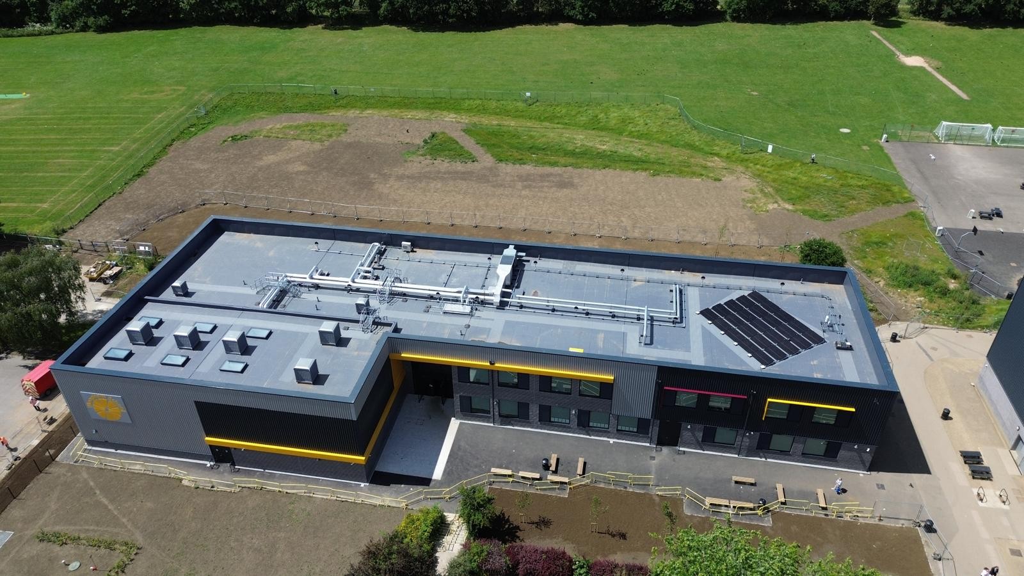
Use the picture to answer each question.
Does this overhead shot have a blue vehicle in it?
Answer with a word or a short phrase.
No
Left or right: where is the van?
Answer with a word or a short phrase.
left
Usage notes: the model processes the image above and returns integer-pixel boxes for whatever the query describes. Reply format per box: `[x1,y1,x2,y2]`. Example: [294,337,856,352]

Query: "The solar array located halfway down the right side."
[694,292,826,371]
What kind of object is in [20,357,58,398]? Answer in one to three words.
van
